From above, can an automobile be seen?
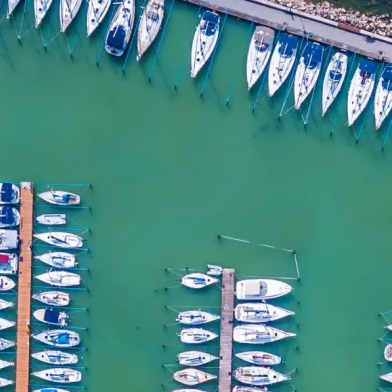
No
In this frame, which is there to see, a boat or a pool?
boat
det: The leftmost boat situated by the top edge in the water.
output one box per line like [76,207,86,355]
[6,0,22,21]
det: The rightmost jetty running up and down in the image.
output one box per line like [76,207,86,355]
[219,269,235,392]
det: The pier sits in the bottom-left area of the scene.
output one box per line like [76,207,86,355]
[15,182,34,392]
